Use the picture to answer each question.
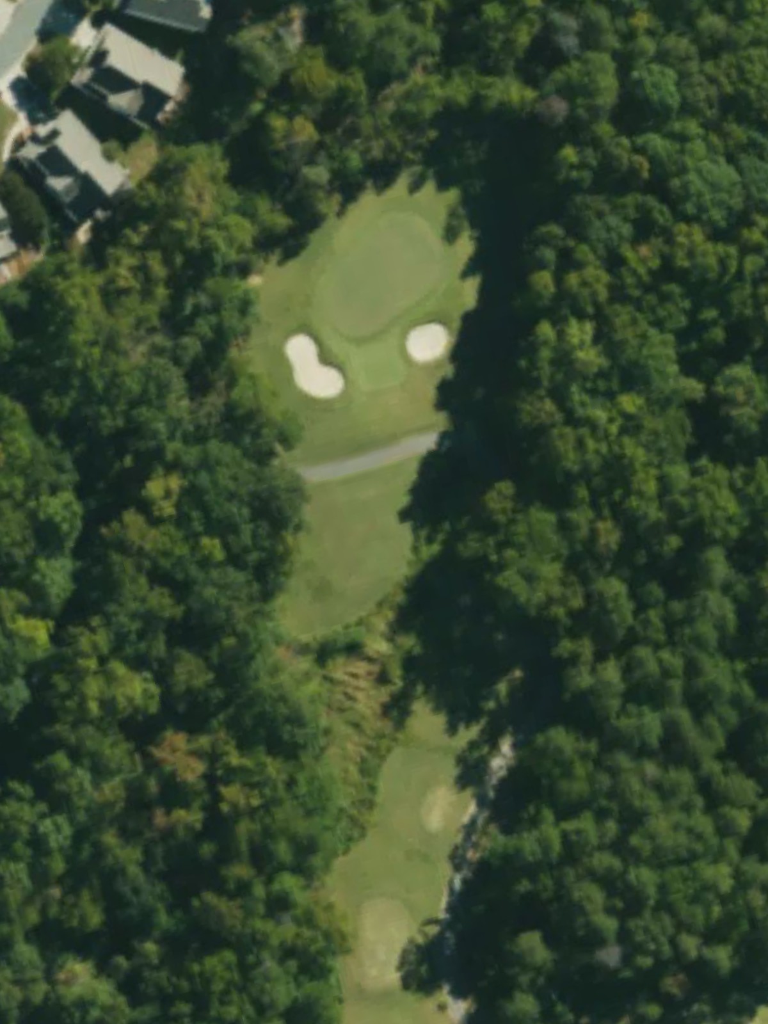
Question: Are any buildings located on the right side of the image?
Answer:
No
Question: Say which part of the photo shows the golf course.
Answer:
center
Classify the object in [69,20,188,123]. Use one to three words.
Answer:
house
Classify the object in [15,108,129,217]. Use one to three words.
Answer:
house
